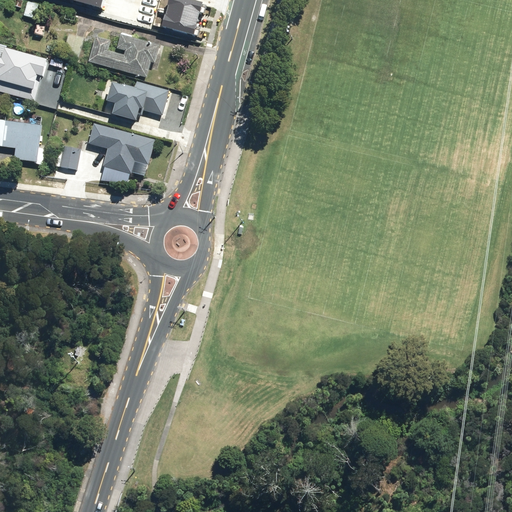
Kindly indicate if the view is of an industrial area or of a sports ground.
sports ground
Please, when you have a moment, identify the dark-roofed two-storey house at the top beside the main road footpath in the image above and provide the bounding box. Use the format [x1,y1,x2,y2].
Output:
[162,0,206,38]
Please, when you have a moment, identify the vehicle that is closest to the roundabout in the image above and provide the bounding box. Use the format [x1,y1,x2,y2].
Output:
[169,192,181,208]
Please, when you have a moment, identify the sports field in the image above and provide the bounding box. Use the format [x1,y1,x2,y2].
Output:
[156,0,512,492]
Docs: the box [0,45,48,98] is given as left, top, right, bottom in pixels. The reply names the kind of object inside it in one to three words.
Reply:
house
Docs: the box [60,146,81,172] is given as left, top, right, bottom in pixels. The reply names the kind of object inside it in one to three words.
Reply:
building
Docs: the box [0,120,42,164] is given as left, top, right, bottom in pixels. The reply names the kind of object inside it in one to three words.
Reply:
house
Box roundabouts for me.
[164,226,198,260]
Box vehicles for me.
[138,15,152,24]
[169,192,181,208]
[258,2,268,22]
[178,95,188,110]
[54,72,62,88]
[47,219,62,226]
[142,0,157,6]
[139,6,154,14]
[94,501,104,512]
[92,153,106,167]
